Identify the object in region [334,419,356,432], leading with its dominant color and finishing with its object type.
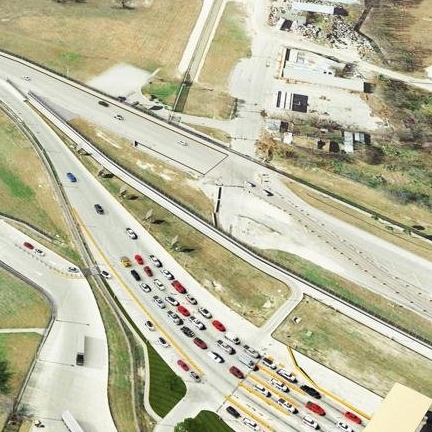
white vehicle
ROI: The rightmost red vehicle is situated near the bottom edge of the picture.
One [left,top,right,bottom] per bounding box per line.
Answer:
[342,410,363,425]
